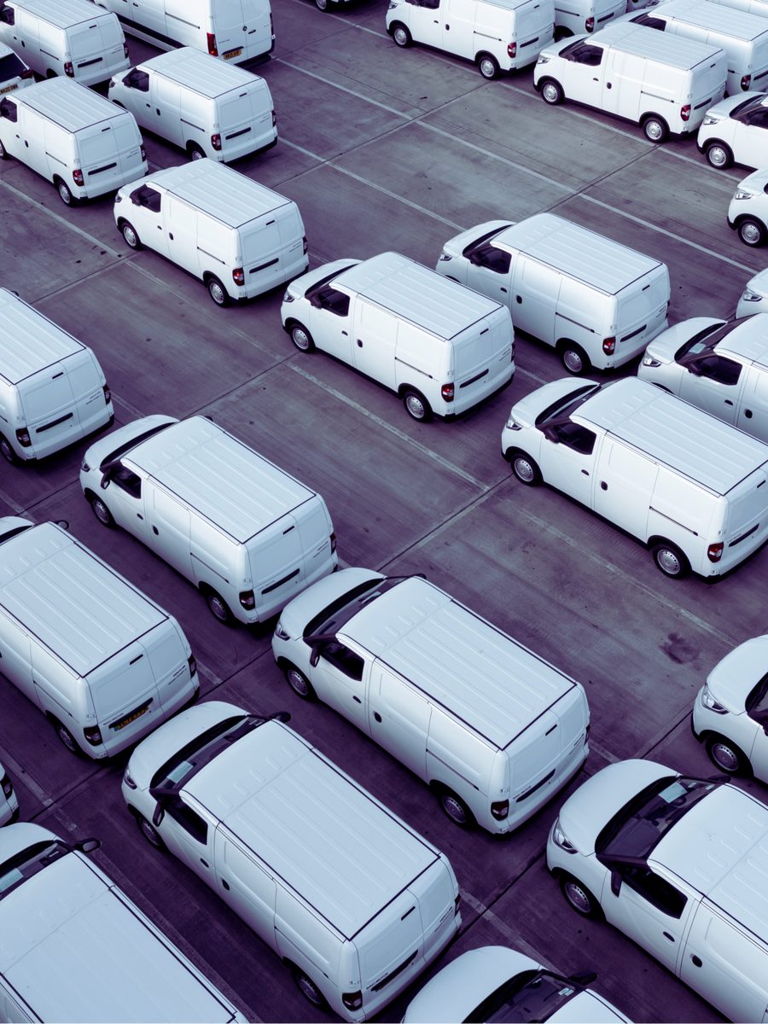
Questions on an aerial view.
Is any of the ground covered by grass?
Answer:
No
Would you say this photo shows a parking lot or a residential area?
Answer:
parking lot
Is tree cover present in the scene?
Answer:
No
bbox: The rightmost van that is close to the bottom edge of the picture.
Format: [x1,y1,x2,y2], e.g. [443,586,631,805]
[545,760,768,1024]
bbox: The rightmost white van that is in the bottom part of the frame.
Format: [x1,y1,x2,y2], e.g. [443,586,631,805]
[692,636,768,792]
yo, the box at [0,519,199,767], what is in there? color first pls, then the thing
white van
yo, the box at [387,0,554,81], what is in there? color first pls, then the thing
white van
